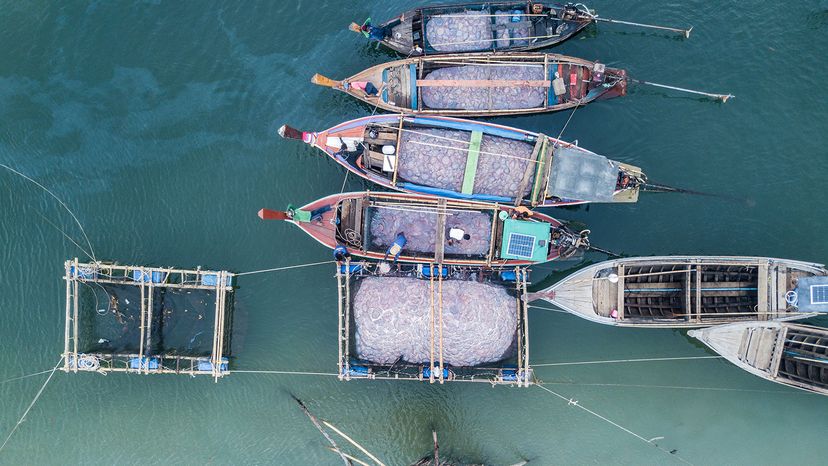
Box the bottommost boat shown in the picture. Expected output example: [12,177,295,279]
[677,320,828,396]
